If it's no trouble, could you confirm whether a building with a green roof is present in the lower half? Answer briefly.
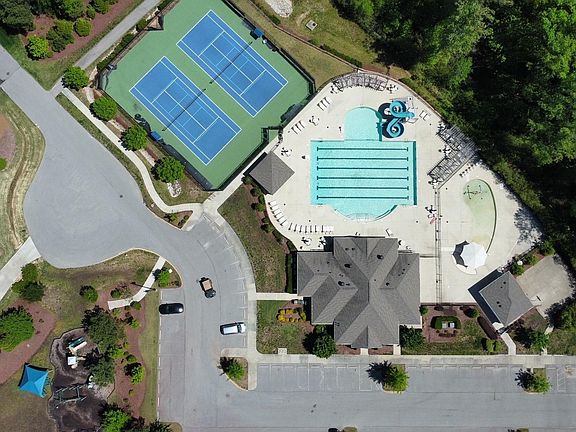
No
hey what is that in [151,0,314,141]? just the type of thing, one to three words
tennis court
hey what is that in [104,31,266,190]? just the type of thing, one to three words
tennis court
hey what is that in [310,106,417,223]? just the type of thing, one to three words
swimming pool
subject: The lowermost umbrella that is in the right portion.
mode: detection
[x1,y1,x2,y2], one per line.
[460,241,487,267]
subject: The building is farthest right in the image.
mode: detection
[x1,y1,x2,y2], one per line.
[477,270,533,330]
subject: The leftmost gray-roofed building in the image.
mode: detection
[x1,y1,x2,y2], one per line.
[249,151,295,195]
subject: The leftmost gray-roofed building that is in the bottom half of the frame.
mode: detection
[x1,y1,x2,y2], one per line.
[297,237,421,348]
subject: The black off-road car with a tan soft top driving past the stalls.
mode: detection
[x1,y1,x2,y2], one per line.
[199,277,216,300]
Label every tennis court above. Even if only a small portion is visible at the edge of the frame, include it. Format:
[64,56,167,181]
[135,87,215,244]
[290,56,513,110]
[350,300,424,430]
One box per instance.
[151,0,314,141]
[104,31,266,190]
